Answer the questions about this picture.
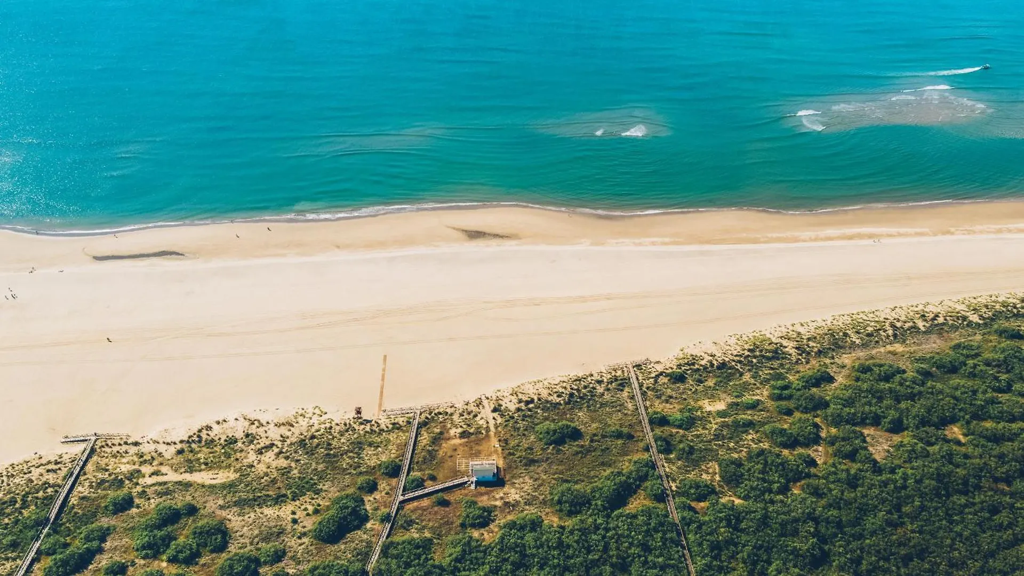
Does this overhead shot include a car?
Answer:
No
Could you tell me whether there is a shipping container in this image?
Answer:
No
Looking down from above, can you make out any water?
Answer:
Yes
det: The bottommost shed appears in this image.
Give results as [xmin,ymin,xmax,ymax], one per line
[457,458,497,489]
